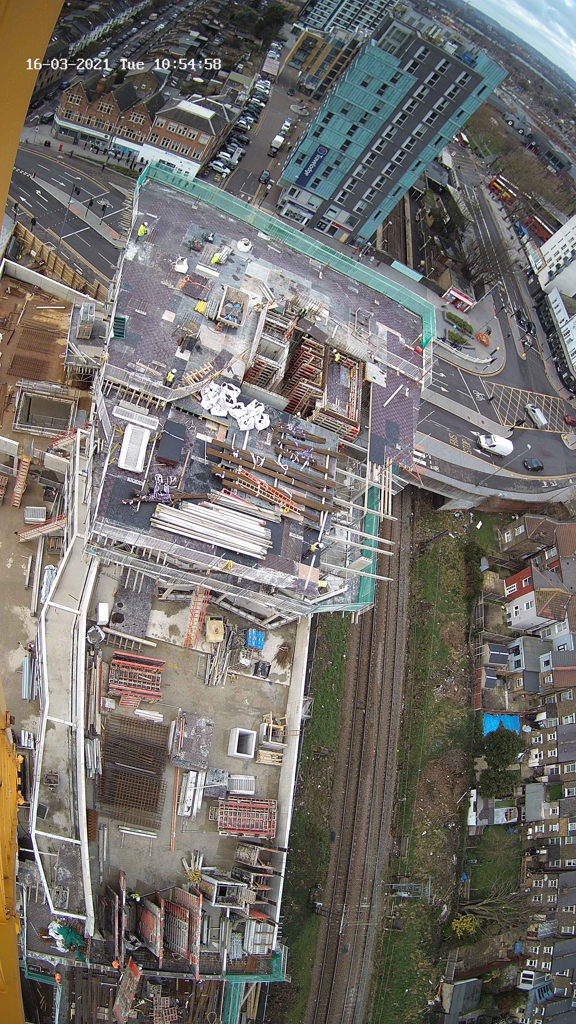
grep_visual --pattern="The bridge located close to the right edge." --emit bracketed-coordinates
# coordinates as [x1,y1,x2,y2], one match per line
[378,460,576,524]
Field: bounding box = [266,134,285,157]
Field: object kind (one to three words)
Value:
vehicle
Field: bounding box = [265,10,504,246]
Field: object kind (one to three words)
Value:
building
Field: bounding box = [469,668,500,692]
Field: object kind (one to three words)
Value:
shed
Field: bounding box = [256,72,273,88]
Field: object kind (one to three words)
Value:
car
